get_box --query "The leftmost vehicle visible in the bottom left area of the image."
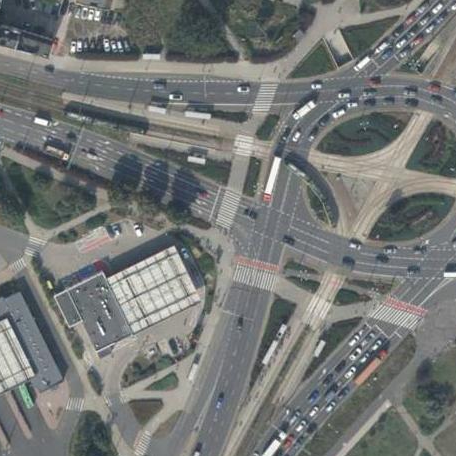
[17,382,35,408]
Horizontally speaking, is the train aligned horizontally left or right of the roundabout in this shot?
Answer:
to the left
